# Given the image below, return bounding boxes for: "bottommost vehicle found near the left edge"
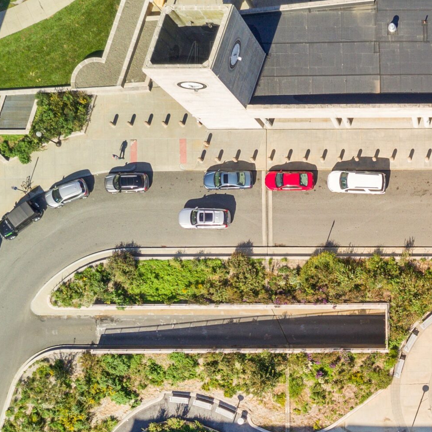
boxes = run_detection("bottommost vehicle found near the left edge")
[0,193,45,233]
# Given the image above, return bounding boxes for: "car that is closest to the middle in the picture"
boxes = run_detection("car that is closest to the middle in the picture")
[179,206,231,230]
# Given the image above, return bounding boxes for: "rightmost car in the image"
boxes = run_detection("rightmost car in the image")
[328,169,386,195]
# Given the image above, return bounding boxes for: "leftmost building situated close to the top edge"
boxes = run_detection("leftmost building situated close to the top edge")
[143,3,265,129]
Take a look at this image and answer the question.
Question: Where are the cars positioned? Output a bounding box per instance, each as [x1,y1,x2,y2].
[104,170,149,193]
[328,169,386,195]
[265,169,314,191]
[179,206,231,230]
[0,193,45,233]
[44,177,91,209]
[203,168,253,191]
